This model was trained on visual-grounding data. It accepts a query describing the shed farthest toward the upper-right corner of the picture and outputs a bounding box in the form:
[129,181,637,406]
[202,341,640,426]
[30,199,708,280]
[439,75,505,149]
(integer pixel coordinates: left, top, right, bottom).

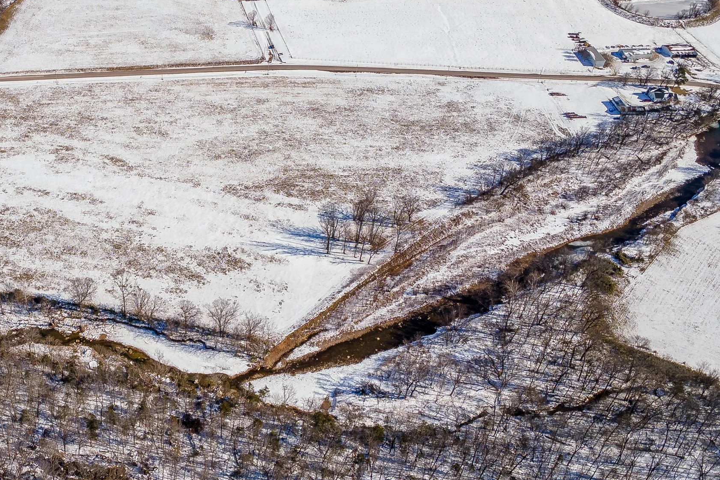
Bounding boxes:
[654,44,696,57]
